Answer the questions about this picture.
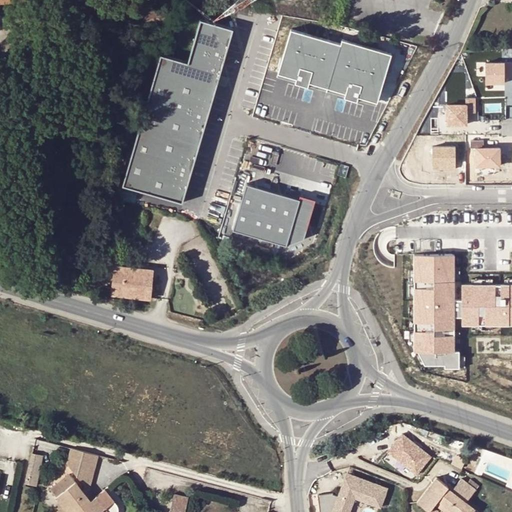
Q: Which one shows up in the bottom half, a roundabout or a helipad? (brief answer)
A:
roundabout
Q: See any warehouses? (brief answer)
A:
Yes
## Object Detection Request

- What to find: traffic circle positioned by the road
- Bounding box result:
[221,283,392,452]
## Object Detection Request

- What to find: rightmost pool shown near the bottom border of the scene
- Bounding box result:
[475,450,512,488]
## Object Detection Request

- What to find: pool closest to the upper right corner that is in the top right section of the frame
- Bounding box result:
[482,102,502,114]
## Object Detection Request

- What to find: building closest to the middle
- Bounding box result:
[234,184,318,246]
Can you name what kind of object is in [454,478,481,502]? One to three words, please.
house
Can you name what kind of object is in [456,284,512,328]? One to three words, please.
building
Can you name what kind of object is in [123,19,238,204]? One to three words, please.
warehouse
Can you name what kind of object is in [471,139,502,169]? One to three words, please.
house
